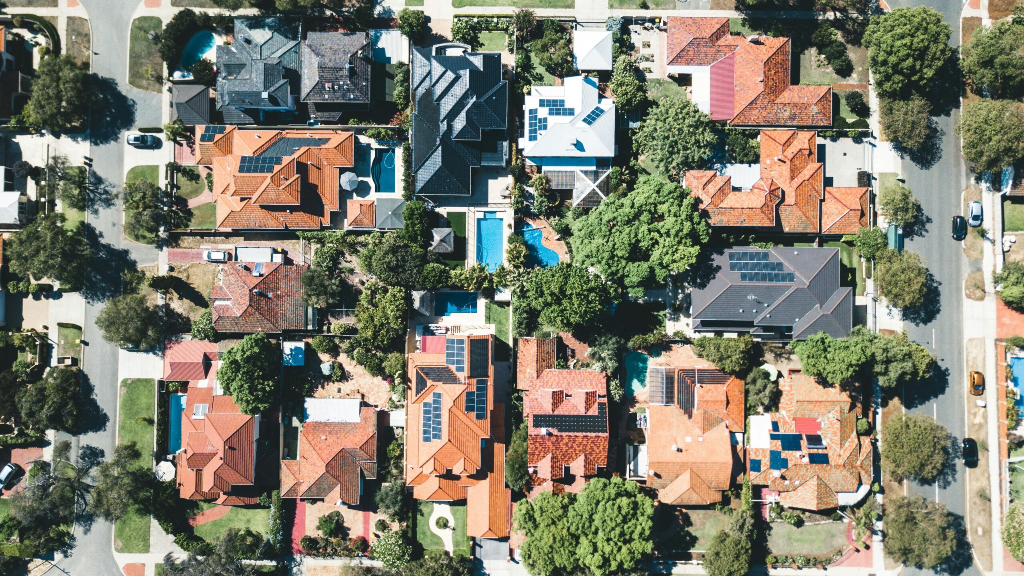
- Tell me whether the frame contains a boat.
No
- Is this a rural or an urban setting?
urban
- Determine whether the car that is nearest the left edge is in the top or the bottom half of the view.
bottom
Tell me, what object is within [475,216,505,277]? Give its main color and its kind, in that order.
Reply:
blue swimming pool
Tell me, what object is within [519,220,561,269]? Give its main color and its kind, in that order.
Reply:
blue swimming pool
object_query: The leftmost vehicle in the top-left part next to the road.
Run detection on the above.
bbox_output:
[127,133,158,147]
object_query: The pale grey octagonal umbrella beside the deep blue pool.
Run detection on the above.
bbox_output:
[341,173,358,190]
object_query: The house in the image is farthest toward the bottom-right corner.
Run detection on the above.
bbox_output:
[747,374,873,510]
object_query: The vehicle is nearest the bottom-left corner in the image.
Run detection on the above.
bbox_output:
[0,461,20,490]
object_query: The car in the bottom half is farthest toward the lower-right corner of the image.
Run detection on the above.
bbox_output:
[960,438,978,467]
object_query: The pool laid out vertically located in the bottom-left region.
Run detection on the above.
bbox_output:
[168,393,186,455]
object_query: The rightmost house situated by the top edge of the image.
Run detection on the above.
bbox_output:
[664,17,833,128]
